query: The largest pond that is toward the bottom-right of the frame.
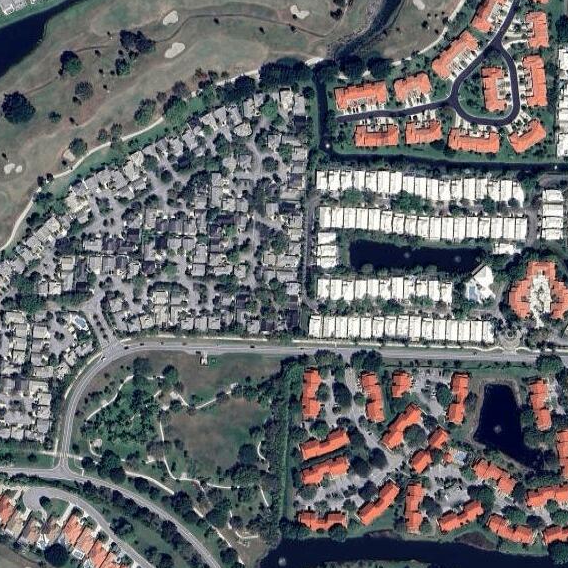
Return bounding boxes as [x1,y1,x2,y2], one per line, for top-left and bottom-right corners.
[472,383,558,470]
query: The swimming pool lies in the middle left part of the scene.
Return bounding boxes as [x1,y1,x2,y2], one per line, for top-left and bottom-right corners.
[73,313,90,332]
